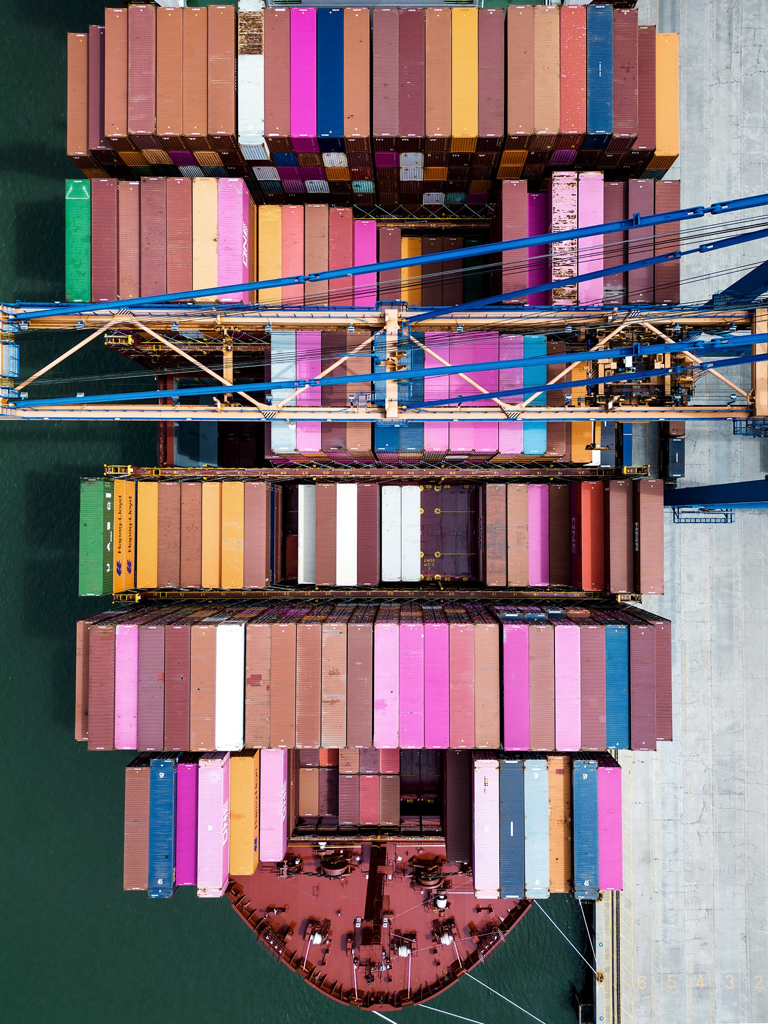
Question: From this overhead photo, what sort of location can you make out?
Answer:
port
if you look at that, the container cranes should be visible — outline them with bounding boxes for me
[0,193,768,523]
